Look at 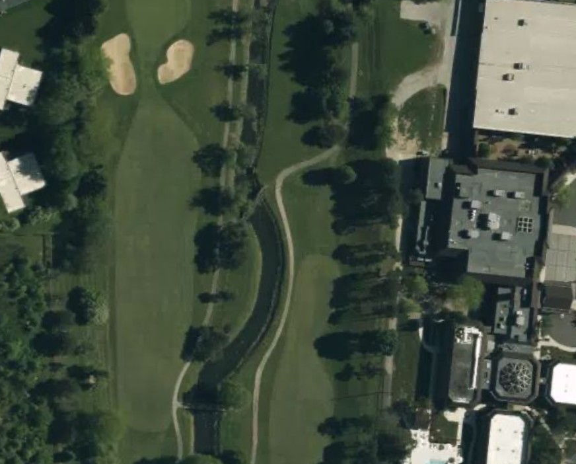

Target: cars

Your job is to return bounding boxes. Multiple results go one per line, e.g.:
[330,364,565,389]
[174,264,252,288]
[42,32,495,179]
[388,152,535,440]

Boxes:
[420,21,431,33]
[417,150,429,155]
